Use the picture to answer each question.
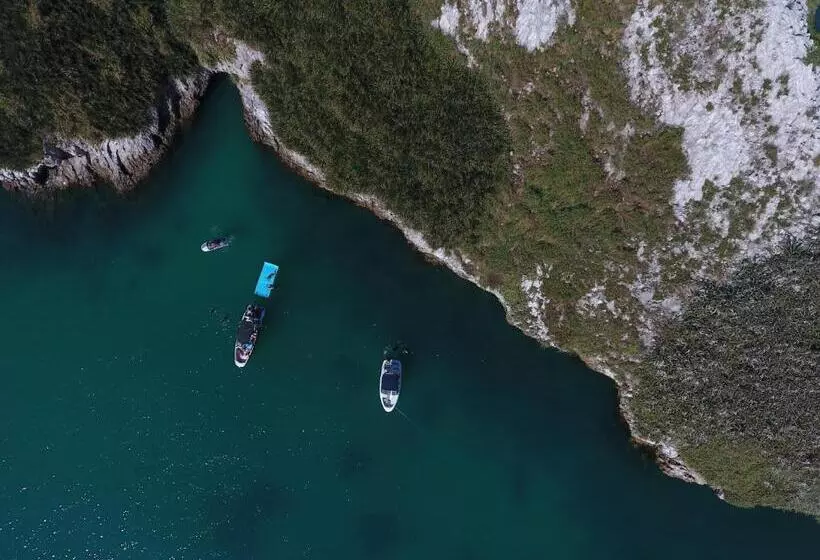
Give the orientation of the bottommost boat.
vertically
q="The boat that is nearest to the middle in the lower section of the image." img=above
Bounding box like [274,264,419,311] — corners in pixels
[380,357,403,413]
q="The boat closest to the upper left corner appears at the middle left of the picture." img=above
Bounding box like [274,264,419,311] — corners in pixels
[201,234,231,249]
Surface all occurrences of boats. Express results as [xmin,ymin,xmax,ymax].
[380,357,403,413]
[235,303,263,365]
[201,234,231,249]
